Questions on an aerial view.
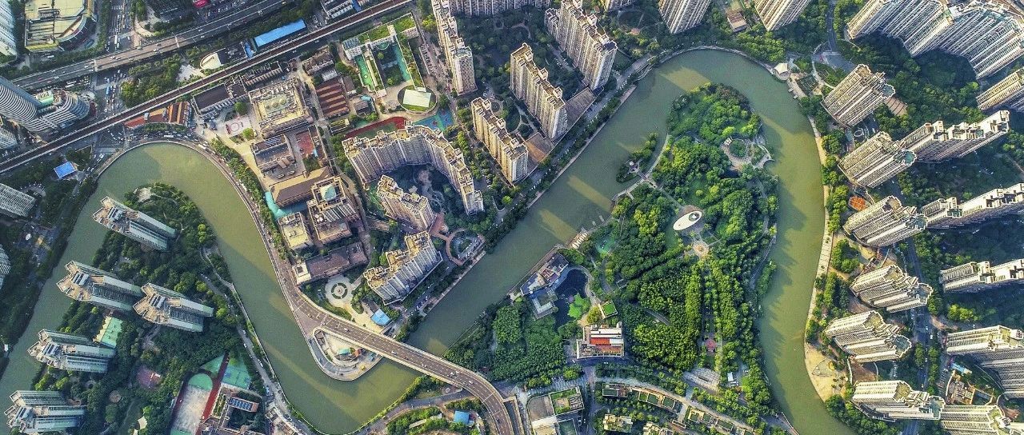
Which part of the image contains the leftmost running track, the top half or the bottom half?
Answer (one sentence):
The leftmost running track sits in the bottom half of the picture.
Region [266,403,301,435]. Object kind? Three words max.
house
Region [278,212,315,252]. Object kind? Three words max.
building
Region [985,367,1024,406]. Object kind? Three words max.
building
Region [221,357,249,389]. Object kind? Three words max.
basketball court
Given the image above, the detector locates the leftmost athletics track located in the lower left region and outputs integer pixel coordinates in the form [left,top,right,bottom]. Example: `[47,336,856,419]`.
[166,353,230,435]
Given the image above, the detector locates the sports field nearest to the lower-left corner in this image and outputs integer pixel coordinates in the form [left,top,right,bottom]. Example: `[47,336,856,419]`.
[171,386,212,435]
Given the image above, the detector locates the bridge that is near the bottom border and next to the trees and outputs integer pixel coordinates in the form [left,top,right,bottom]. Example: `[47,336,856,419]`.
[278,287,516,435]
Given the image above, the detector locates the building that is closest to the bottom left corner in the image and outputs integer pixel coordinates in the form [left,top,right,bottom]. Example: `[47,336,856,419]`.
[2,391,100,433]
